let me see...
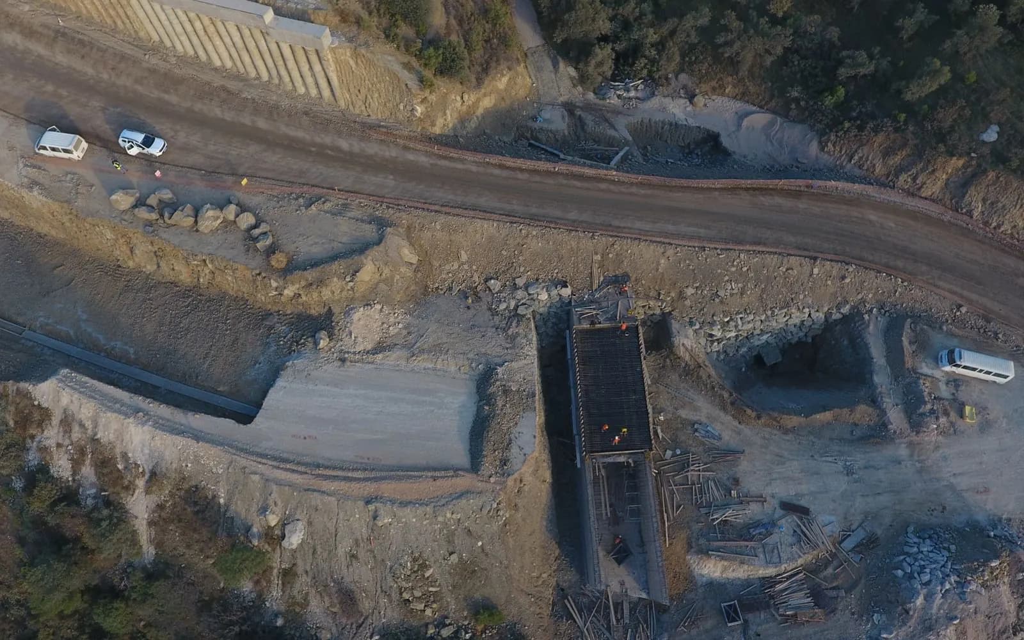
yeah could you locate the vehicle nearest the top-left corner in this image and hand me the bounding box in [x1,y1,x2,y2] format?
[29,127,85,161]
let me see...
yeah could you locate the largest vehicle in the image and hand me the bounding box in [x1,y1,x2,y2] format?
[937,349,1015,383]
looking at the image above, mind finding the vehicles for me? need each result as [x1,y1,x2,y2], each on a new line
[119,129,167,157]
[937,349,1015,383]
[29,127,85,161]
